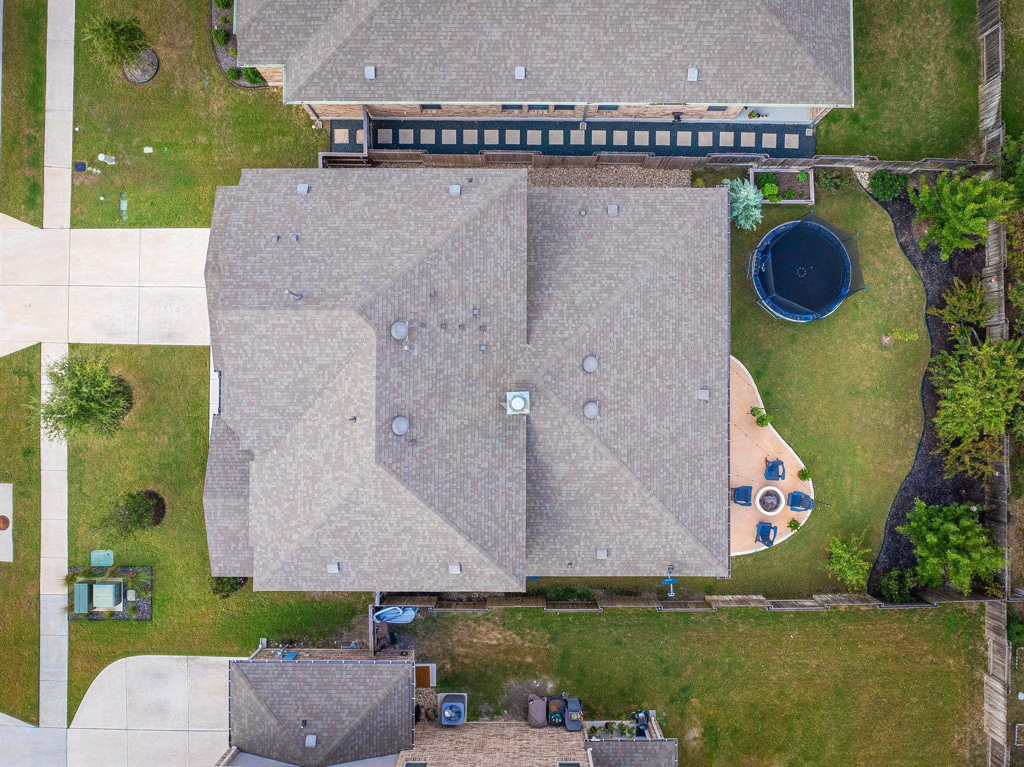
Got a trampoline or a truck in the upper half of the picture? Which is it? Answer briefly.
trampoline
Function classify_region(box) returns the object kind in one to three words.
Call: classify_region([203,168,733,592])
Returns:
house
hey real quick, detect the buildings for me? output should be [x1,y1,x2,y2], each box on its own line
[203,168,733,592]
[213,642,678,767]
[234,0,854,127]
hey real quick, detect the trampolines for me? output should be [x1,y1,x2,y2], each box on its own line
[744,210,866,325]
